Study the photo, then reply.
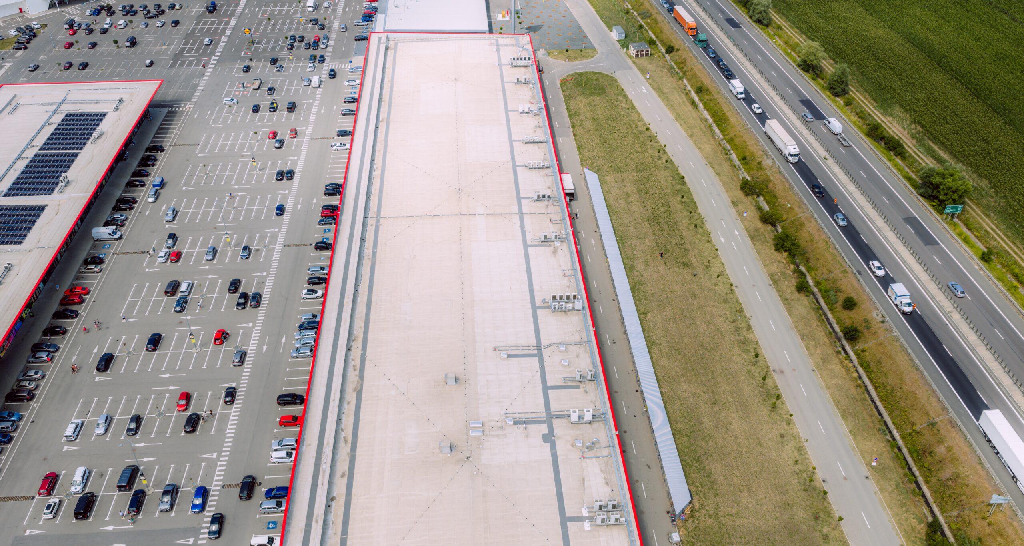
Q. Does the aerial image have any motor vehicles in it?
Yes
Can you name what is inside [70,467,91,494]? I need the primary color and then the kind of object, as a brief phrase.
white car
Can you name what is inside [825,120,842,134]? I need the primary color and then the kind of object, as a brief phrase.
white vehicle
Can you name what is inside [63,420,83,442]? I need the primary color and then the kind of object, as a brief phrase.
white car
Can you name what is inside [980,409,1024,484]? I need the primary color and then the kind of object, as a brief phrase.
white trailer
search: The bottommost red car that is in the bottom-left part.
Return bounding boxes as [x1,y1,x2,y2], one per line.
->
[37,473,59,498]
